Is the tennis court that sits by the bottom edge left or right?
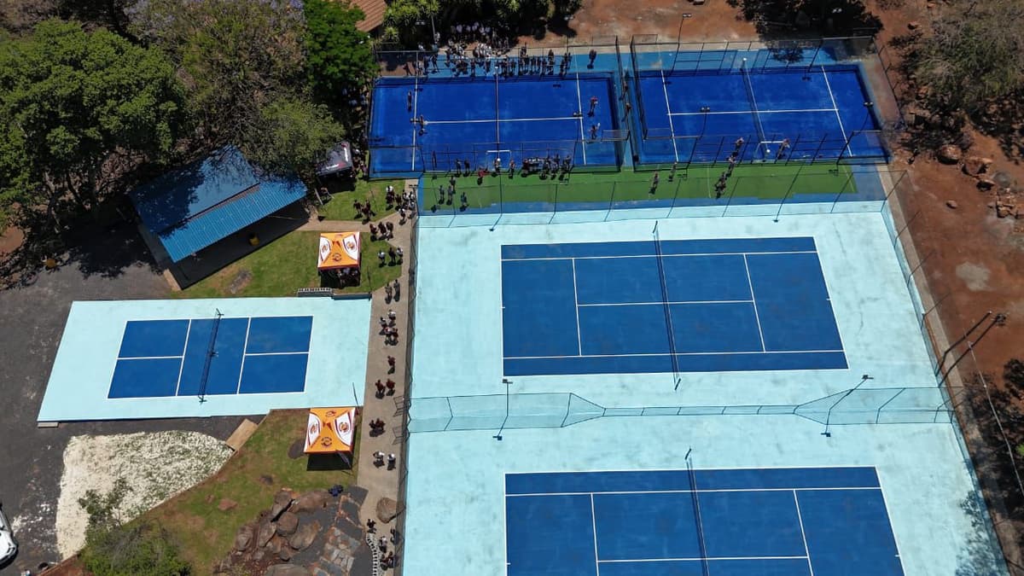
right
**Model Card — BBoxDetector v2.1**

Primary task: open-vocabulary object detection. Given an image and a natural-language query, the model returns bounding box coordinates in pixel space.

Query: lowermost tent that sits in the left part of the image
[304,408,361,464]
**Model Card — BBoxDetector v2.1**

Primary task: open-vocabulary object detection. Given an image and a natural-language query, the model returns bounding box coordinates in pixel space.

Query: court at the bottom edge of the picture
[401,406,1010,576]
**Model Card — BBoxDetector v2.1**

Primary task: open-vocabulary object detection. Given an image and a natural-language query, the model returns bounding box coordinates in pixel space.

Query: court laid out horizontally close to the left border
[32,296,370,427]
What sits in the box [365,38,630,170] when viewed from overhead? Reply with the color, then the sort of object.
blue sports court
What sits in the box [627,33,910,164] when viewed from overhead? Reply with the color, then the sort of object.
blue sports court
